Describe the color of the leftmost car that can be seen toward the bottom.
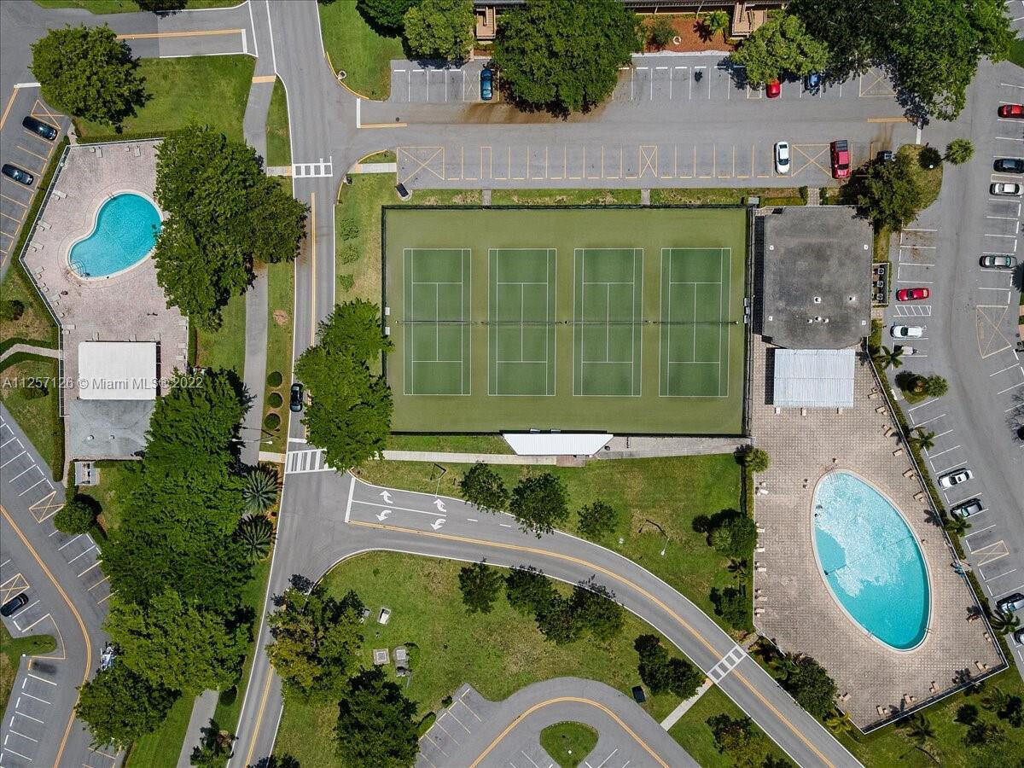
black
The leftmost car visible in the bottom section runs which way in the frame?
at an angle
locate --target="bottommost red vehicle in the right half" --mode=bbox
[896,287,930,302]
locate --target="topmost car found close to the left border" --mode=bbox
[23,117,58,140]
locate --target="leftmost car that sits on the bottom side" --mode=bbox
[1,592,31,617]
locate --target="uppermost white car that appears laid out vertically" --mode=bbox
[774,143,789,174]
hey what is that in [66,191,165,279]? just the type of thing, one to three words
swimming pool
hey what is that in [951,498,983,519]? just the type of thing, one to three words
car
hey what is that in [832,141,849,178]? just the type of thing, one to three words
vehicle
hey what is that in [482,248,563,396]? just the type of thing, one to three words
tennis court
